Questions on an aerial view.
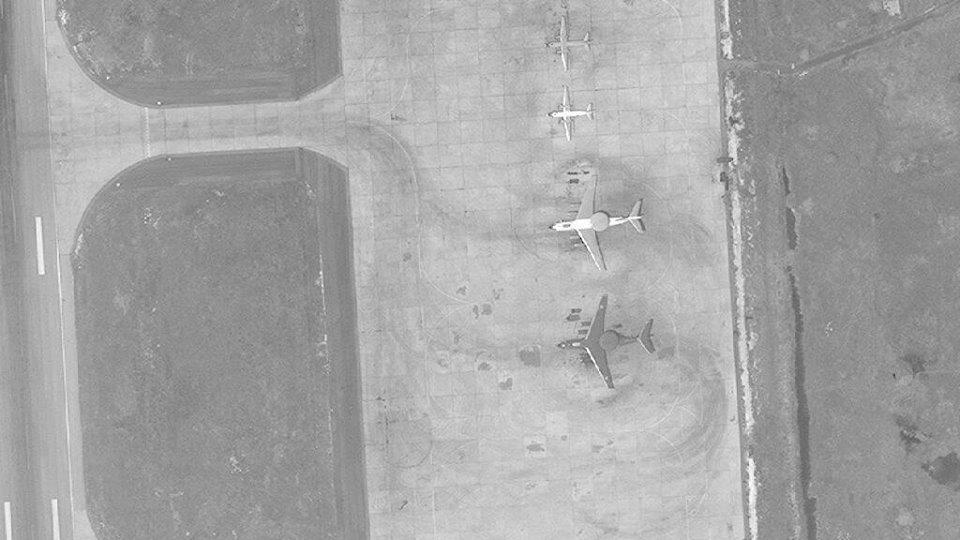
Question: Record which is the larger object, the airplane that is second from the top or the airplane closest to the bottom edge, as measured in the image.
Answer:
the airplane closest to the bottom edge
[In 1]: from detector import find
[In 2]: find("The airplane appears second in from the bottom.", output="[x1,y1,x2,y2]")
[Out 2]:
[550,175,644,270]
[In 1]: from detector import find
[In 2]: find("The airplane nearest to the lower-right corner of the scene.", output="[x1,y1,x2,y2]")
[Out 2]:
[558,293,652,389]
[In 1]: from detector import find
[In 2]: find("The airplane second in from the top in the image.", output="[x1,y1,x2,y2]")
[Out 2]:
[547,86,592,142]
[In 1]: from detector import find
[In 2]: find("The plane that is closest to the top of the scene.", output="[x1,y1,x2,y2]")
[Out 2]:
[546,16,591,71]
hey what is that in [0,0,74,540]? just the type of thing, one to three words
runway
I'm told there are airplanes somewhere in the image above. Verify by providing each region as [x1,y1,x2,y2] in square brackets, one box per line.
[550,175,644,270]
[546,16,591,71]
[547,86,592,142]
[558,293,652,389]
